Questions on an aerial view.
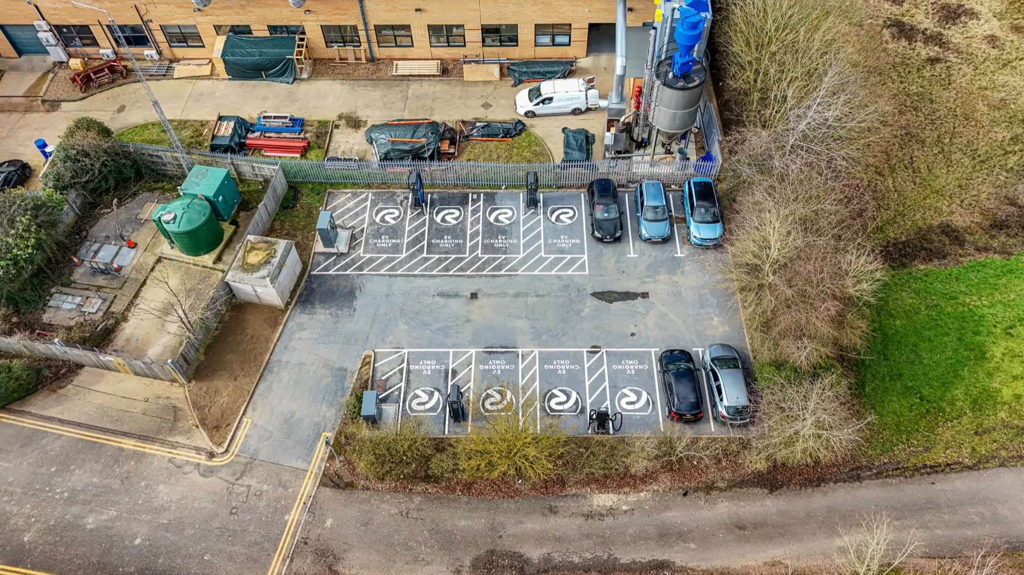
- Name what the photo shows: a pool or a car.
car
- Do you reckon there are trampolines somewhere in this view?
No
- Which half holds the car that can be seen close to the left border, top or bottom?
top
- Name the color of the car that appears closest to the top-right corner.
blue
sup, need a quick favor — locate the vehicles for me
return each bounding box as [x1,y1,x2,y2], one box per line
[0,151,34,183]
[662,346,709,423]
[515,70,604,114]
[636,181,676,242]
[704,344,755,425]
[681,180,726,247]
[589,179,627,241]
